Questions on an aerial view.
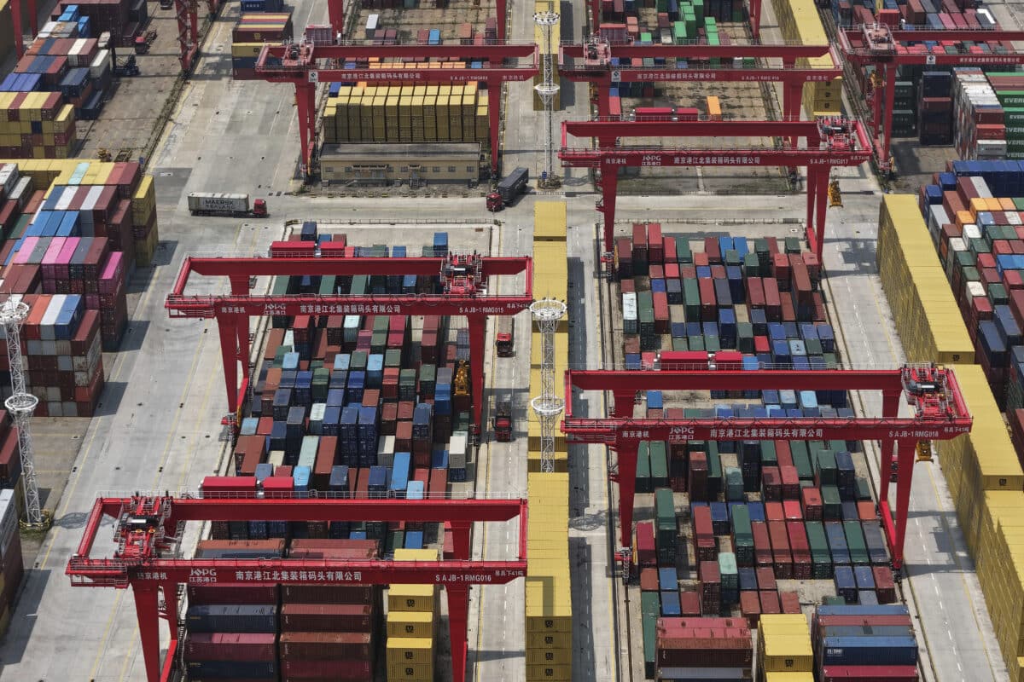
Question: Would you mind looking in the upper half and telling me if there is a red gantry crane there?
Yes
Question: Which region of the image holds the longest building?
top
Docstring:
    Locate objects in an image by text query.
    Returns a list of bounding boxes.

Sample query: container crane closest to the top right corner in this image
[837,12,1024,165]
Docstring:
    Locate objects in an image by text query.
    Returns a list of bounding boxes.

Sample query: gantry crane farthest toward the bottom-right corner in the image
[557,347,972,579]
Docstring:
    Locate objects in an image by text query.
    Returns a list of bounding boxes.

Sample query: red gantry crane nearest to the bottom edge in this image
[62,470,532,682]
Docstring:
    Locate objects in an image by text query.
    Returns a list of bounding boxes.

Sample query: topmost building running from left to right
[320,141,486,186]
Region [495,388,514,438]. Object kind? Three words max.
vehicle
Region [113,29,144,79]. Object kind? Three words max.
work vehicle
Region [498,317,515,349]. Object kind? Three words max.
vehicle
